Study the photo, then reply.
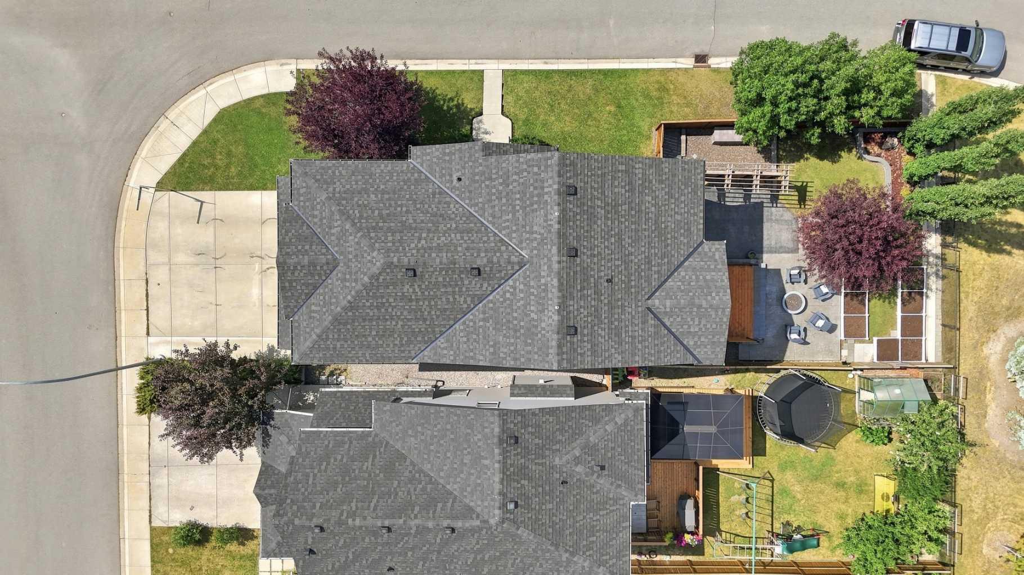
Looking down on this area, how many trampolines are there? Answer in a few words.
1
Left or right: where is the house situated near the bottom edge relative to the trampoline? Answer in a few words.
left of it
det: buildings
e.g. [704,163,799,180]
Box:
[855,374,928,418]
[252,377,652,575]
[274,141,732,371]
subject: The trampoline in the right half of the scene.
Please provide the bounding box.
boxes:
[752,368,852,456]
